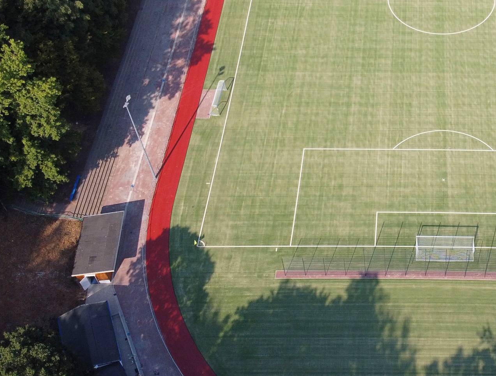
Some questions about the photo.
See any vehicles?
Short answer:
No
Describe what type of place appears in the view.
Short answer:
sports ground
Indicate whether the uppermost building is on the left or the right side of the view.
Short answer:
left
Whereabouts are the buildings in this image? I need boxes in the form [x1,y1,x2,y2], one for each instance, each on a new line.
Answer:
[65,211,123,291]
[57,300,126,376]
